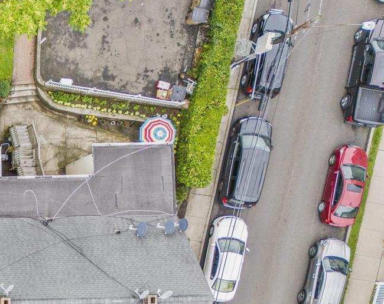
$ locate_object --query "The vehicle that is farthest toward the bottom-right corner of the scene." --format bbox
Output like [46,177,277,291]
[299,237,354,304]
